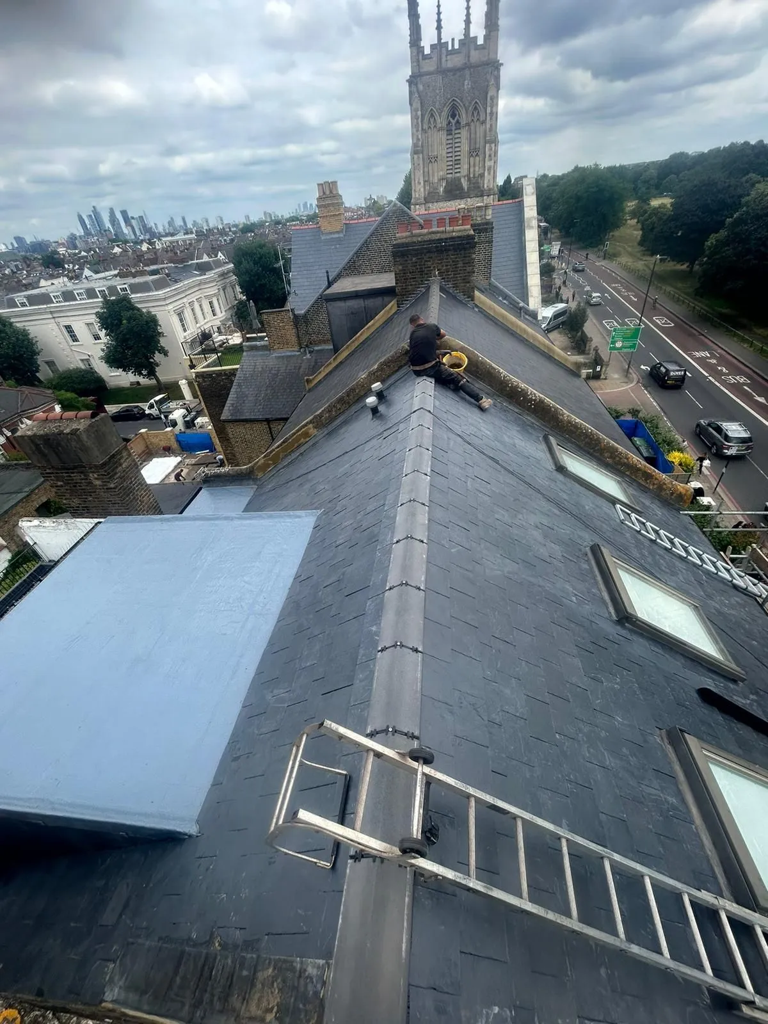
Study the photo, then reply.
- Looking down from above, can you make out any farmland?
No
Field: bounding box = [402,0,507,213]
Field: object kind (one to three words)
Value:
building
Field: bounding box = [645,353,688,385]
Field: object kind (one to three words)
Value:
van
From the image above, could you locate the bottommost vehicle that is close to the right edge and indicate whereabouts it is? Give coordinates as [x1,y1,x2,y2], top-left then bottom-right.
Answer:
[697,413,759,453]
